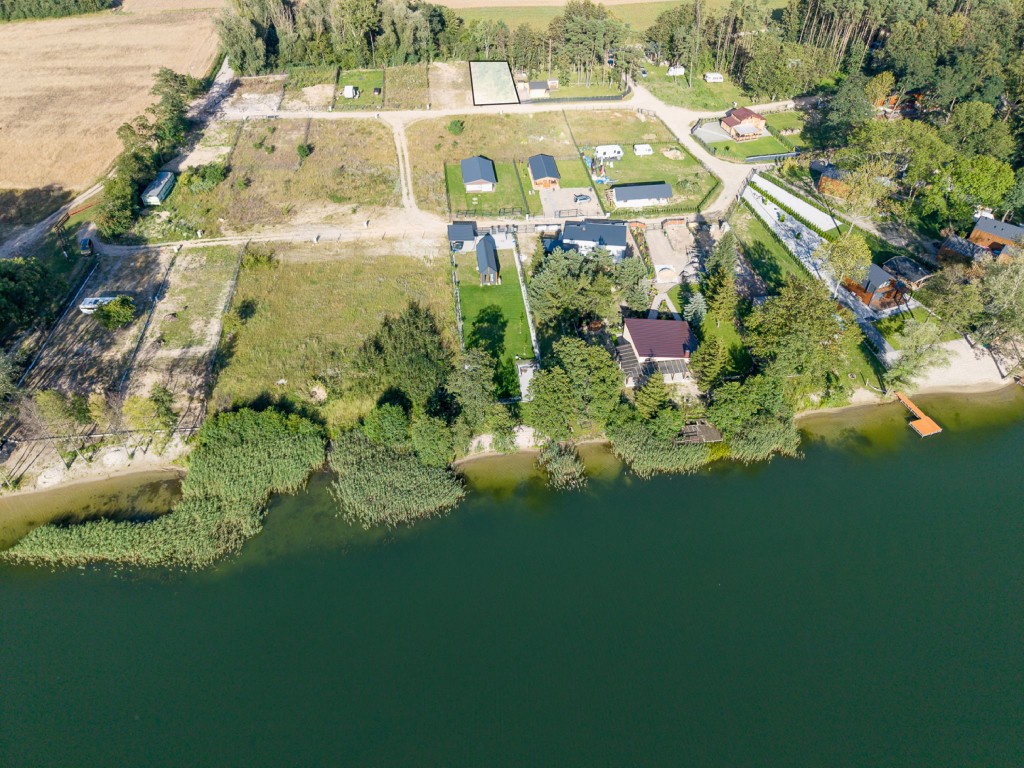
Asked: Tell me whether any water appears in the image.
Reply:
Yes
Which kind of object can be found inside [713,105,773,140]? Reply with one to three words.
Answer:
house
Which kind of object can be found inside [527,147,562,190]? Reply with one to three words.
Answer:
building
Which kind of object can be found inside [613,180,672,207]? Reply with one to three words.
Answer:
shed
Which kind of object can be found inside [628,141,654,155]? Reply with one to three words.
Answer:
camper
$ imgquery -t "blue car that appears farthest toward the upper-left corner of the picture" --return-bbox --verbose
[77,239,94,253]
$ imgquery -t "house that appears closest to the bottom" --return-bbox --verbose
[623,318,690,370]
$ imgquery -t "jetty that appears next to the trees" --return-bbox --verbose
[893,391,943,440]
